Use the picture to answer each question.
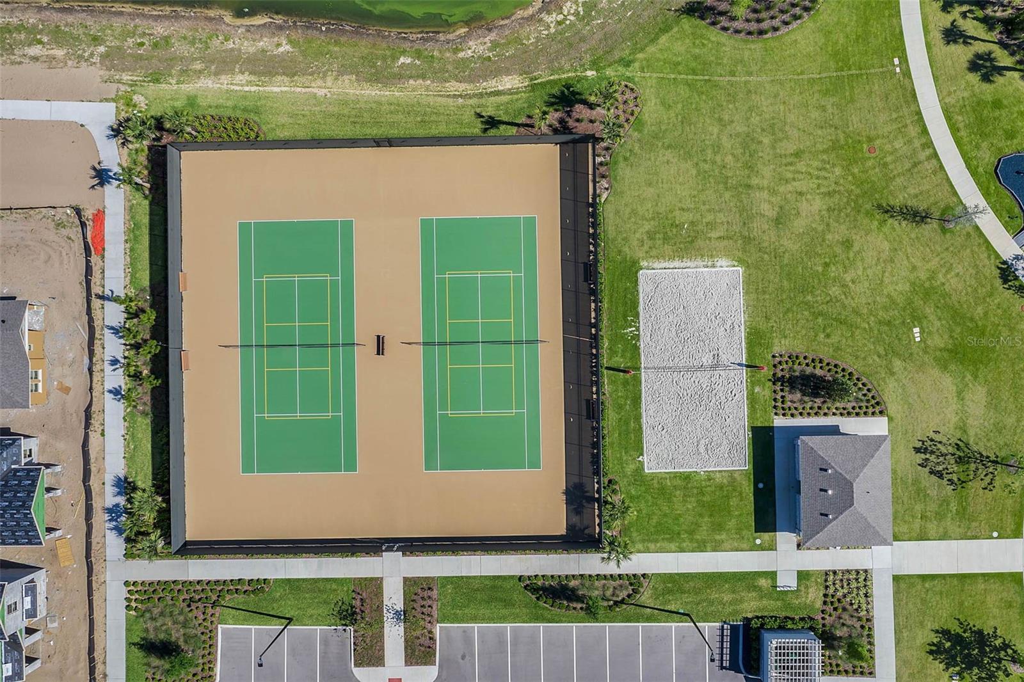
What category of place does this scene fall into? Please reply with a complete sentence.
The picture captures a sports ground.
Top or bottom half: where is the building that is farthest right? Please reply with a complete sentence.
The building that is farthest right sits in the bottom half of the picture.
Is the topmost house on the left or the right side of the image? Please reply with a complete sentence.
You can find the topmost house on the left side of the picture.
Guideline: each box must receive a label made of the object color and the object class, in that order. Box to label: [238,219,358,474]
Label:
green tennis court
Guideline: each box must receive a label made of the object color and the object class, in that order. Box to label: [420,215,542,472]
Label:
green tennis court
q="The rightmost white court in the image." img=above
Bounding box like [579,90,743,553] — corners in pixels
[639,267,748,473]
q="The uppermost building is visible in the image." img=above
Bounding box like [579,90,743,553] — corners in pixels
[0,300,46,408]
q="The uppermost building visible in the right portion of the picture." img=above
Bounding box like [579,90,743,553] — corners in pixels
[792,435,893,549]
